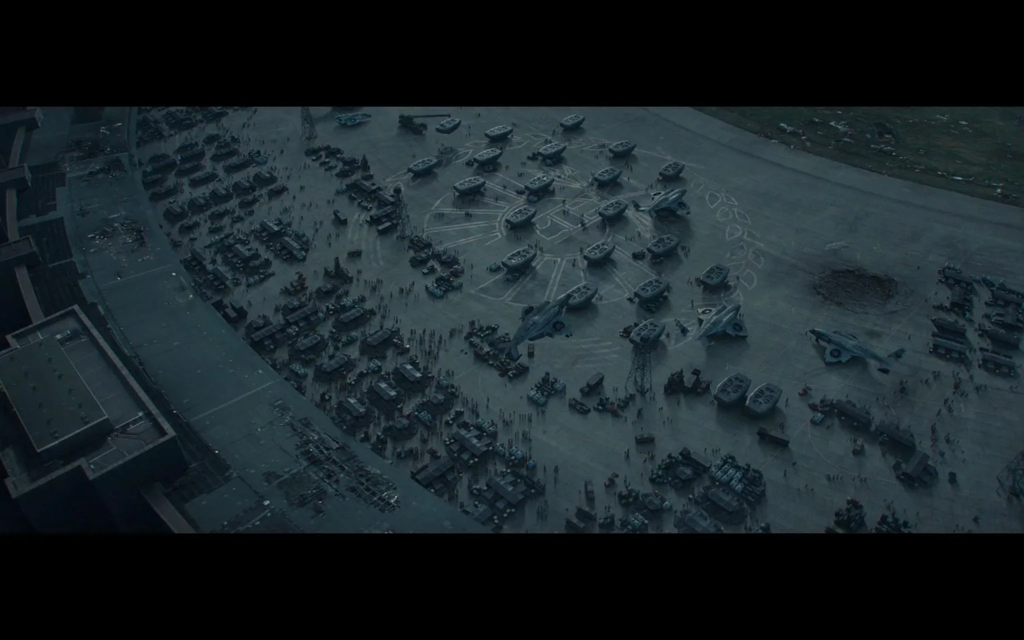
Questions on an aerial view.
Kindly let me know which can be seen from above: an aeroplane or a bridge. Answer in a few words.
aeroplane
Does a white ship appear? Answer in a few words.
No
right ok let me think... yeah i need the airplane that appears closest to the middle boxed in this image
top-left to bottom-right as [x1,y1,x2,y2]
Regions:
[496,310,579,374]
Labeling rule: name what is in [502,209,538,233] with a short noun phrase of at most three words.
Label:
ship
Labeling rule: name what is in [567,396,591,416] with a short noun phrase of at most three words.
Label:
vehicle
